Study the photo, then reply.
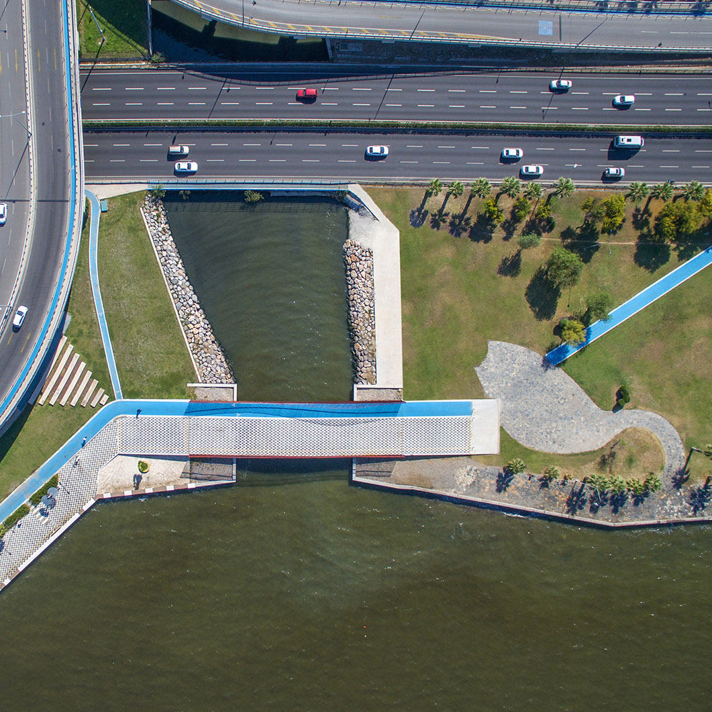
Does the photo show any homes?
No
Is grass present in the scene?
Yes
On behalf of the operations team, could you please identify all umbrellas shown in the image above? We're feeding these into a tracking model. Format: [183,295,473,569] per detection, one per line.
[42,495,52,505]
[48,486,59,497]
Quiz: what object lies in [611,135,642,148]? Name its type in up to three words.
vehicle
